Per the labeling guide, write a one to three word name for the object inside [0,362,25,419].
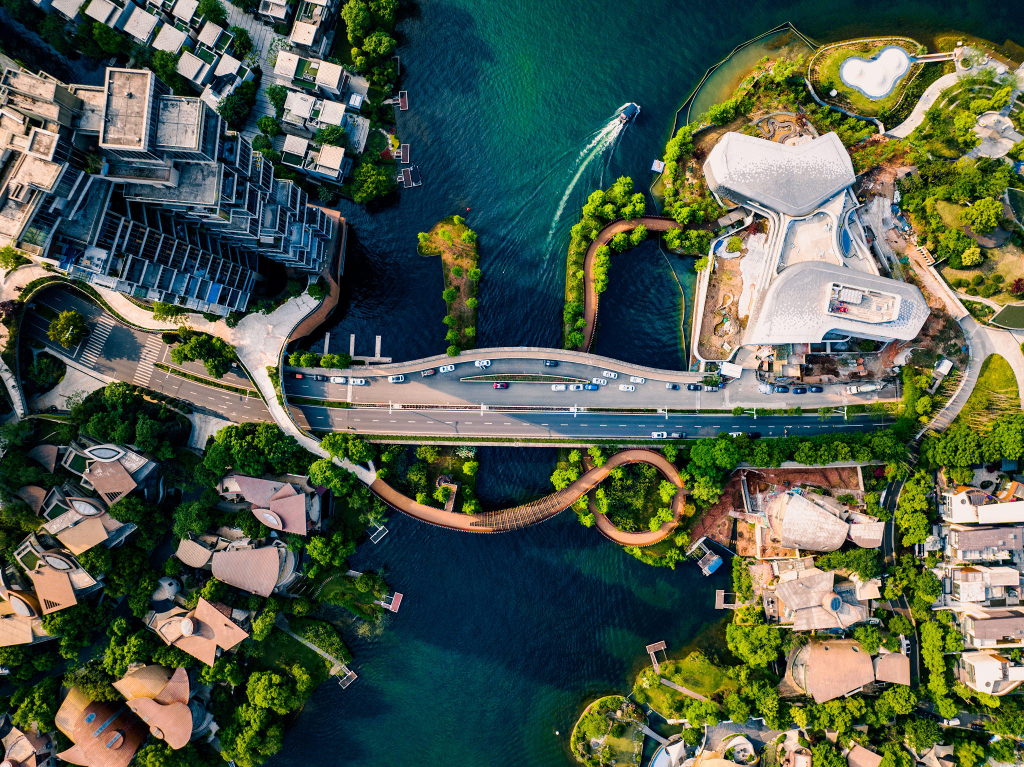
bridge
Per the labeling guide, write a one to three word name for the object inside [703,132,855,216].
building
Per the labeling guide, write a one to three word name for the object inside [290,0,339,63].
house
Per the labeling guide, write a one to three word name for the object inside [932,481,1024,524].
house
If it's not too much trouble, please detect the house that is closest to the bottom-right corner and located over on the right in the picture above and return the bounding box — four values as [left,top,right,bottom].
[954,647,1024,696]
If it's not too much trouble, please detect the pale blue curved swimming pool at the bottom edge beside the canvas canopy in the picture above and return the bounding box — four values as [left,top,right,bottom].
[643,734,674,767]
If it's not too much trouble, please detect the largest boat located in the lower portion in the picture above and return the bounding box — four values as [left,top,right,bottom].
[703,558,721,575]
